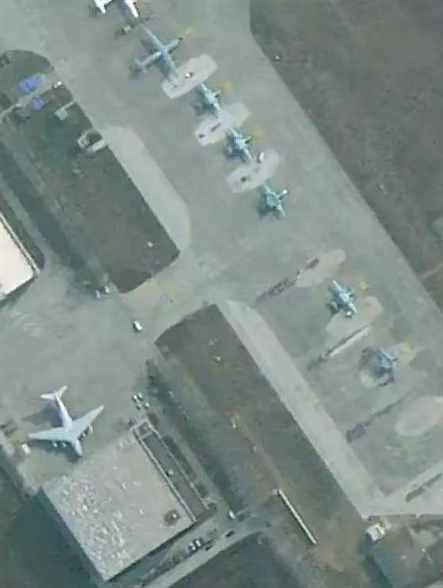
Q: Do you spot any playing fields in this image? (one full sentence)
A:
No, there is no playing field in the image.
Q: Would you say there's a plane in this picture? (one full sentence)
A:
Yes, a plane can be made out from above.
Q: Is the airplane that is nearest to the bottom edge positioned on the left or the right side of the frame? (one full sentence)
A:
It is on the left.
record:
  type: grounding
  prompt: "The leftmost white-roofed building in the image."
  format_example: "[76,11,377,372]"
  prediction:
[0,214,37,295]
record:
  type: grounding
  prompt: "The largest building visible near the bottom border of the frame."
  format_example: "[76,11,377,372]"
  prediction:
[43,428,195,582]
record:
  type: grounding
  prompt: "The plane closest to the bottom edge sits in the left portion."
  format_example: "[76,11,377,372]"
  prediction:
[28,380,105,457]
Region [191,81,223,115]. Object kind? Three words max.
airplane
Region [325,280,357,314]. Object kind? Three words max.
airplane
